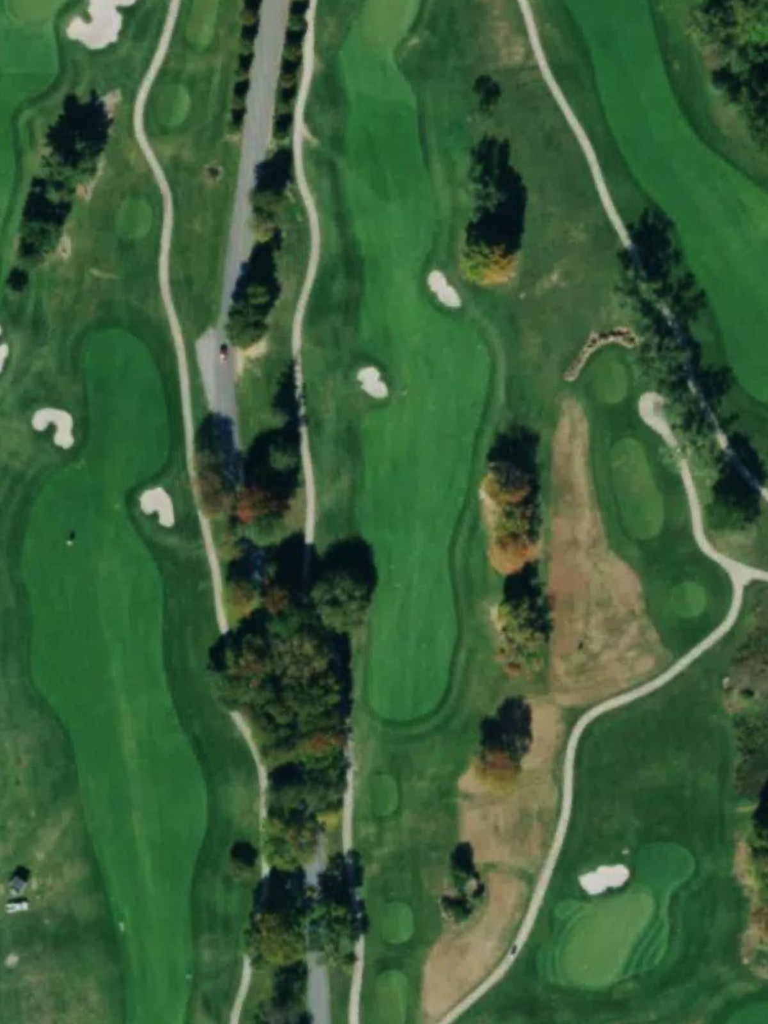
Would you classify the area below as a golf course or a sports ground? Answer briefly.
golf course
